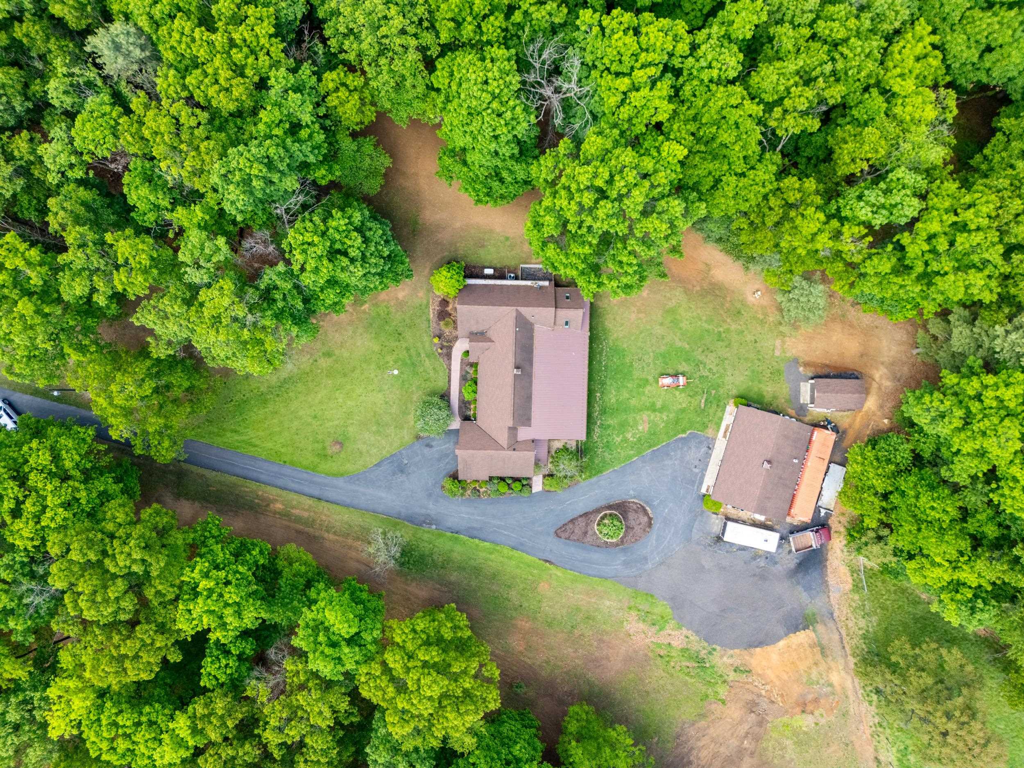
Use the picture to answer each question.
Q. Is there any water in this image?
No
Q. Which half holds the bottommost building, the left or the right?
right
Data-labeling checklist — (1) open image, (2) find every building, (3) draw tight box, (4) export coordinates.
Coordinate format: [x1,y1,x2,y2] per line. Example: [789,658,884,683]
[706,405,836,523]
[800,379,865,410]
[455,279,590,480]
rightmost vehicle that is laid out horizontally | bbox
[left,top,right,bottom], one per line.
[780,524,834,553]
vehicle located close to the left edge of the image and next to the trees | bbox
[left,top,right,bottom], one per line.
[0,400,20,429]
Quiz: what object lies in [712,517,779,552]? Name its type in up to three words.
trailer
